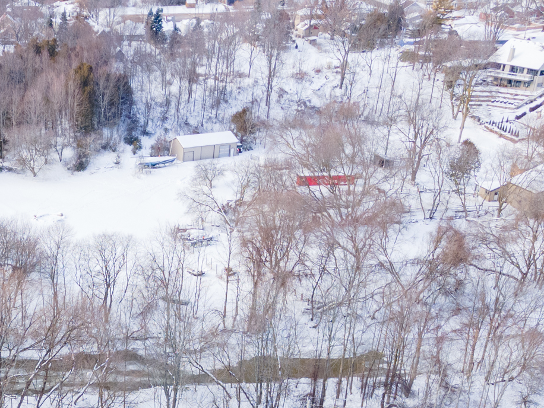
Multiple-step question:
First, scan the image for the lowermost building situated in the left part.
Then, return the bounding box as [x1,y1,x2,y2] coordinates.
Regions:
[166,126,240,160]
